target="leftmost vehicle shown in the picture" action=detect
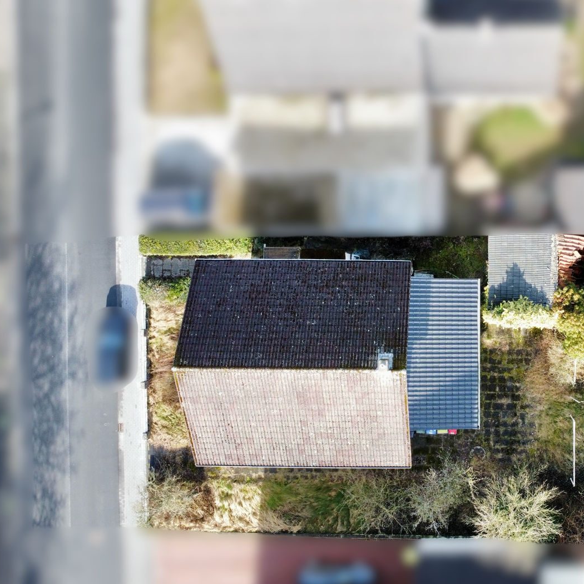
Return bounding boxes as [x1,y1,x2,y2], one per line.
[91,311,128,379]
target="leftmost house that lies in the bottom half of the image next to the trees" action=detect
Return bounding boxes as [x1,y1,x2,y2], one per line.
[172,257,414,469]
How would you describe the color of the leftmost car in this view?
blue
